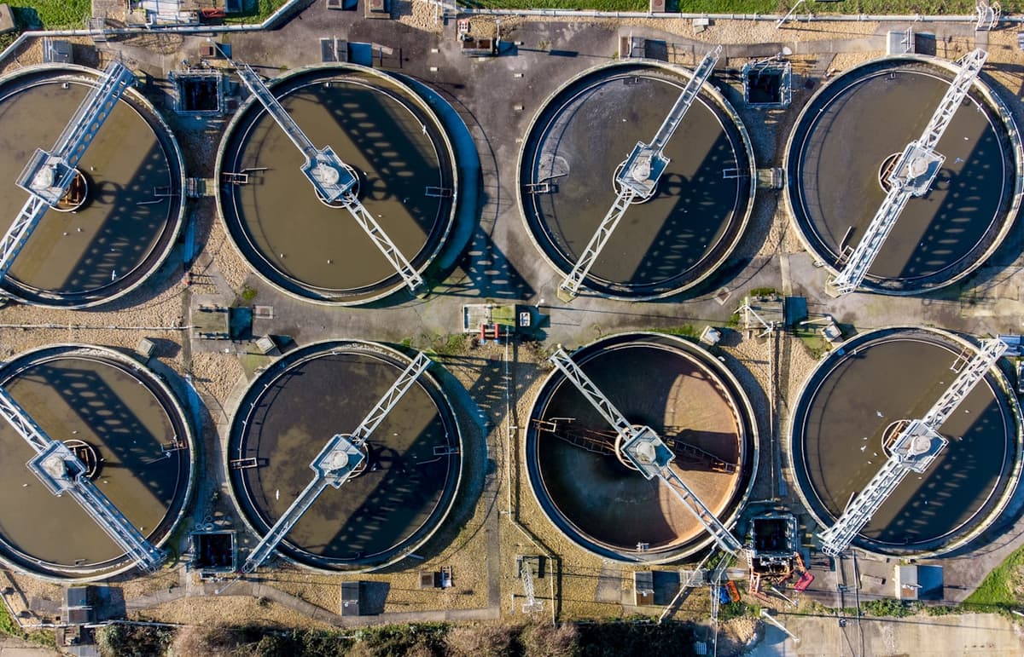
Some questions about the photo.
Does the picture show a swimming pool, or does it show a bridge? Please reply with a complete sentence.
I can see a bridge in this picture.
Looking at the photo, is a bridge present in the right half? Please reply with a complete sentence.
Yes, there is a bridge in the right half.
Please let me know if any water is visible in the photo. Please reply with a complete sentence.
Yes, there is water in the image.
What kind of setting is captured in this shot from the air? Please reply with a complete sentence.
This looks like an industrial area.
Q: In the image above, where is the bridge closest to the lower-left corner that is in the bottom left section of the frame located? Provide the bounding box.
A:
[0,382,181,582]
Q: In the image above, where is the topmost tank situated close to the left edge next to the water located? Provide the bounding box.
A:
[0,62,189,308]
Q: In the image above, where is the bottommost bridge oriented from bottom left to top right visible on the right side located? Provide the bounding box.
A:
[810,336,1013,563]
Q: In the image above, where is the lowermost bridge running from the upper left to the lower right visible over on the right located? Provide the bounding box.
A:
[550,347,747,561]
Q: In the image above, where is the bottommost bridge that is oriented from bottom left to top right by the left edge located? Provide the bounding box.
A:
[0,52,153,301]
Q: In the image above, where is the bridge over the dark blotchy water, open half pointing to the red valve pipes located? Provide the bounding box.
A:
[240,351,434,576]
